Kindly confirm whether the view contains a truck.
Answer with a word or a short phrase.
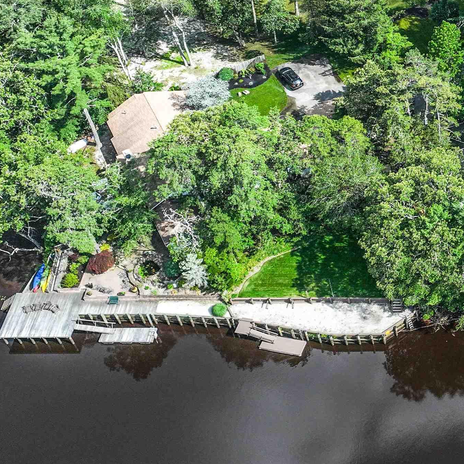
No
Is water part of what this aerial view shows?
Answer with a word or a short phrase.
Yes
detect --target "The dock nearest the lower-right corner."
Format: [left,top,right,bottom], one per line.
[259,337,307,358]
